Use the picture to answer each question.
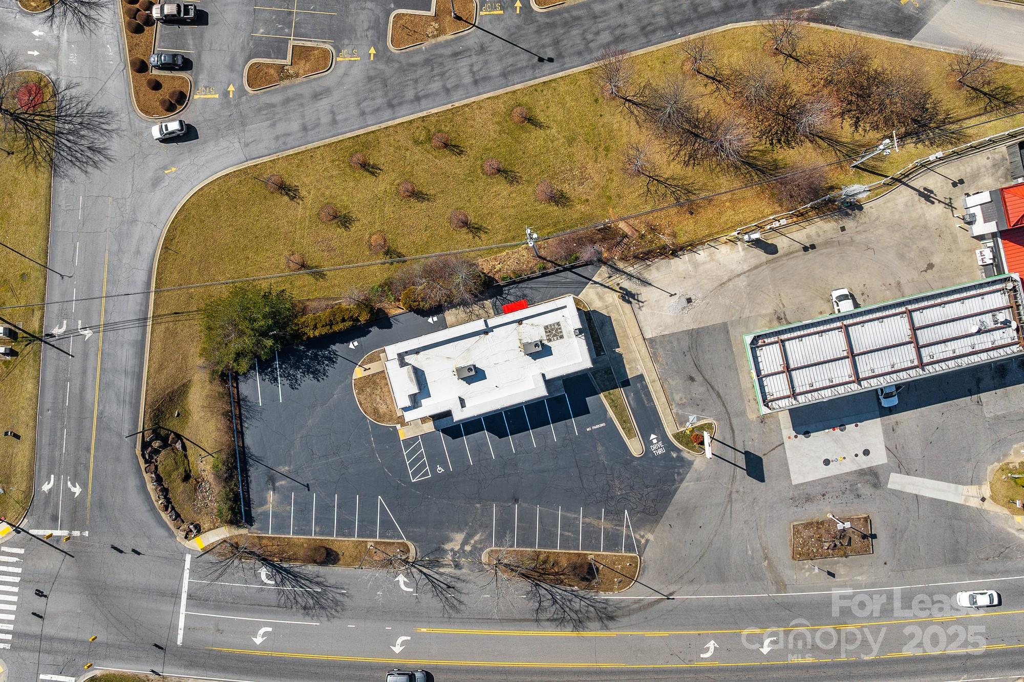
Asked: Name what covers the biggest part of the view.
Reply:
paved ground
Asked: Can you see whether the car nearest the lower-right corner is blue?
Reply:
No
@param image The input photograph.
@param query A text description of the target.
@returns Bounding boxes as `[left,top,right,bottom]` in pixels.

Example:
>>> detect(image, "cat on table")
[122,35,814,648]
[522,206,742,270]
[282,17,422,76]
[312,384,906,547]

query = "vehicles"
[954,587,997,609]
[152,0,199,23]
[150,118,190,141]
[829,285,853,312]
[877,384,903,410]
[149,51,186,70]
[385,668,427,682]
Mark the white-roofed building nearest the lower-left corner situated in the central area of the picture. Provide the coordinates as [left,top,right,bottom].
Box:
[384,295,592,422]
